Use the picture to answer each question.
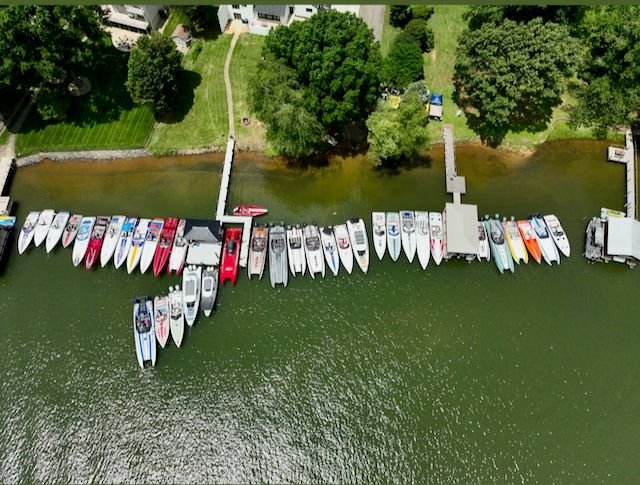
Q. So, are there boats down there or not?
Yes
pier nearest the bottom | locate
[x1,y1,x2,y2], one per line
[186,240,222,268]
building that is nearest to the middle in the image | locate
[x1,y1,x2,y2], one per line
[441,205,479,264]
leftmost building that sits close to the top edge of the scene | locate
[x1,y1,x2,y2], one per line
[97,0,181,34]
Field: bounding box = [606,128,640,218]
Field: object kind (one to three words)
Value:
pier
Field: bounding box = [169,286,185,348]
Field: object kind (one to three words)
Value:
boat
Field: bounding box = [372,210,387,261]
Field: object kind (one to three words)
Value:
boat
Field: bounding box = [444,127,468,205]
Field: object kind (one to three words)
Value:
pier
